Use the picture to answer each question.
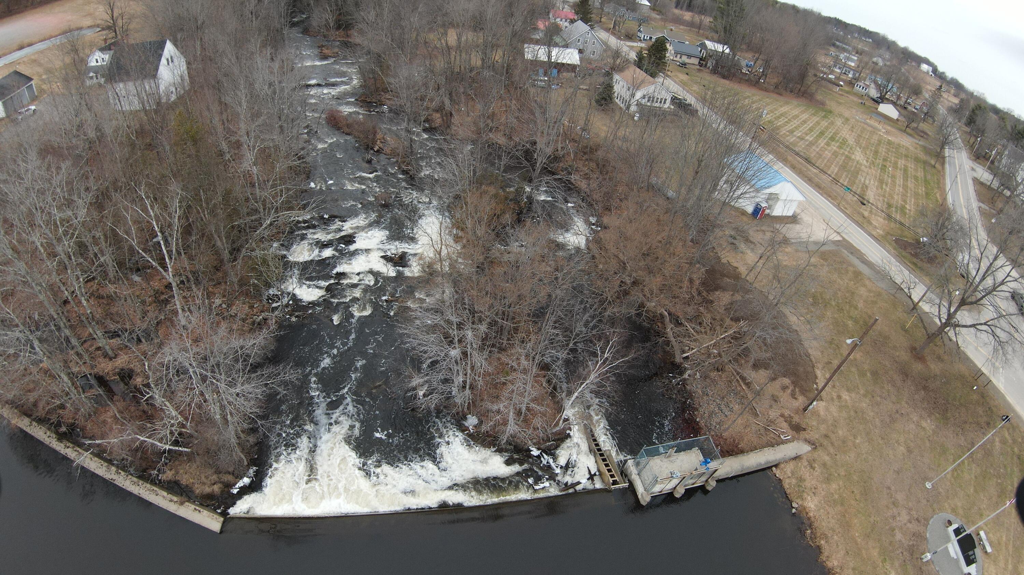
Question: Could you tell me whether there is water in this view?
Yes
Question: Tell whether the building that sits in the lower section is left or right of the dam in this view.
on its right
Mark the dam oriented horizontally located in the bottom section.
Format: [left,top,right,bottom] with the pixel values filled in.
[229,489,602,517]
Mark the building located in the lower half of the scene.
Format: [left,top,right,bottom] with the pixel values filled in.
[635,446,722,499]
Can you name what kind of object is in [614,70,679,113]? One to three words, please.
house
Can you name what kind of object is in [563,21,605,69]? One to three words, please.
house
